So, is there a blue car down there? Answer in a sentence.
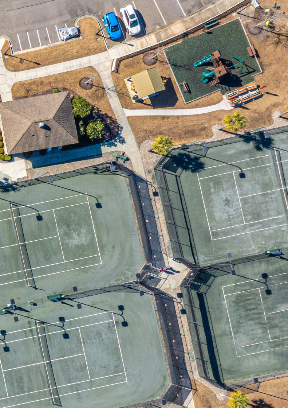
Yes, a blue car appears in the view.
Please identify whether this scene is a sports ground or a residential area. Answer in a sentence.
This image shows a sports ground.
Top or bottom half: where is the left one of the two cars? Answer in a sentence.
The left one of the two cars sits in the top half of the picture.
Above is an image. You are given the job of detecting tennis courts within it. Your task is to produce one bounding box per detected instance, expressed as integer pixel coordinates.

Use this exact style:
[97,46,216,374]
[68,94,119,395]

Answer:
[181,247,288,385]
[0,164,147,308]
[156,126,288,267]
[0,278,172,408]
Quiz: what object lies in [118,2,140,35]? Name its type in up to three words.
car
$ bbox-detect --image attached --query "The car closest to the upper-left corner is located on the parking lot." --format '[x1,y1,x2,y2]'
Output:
[101,11,122,41]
